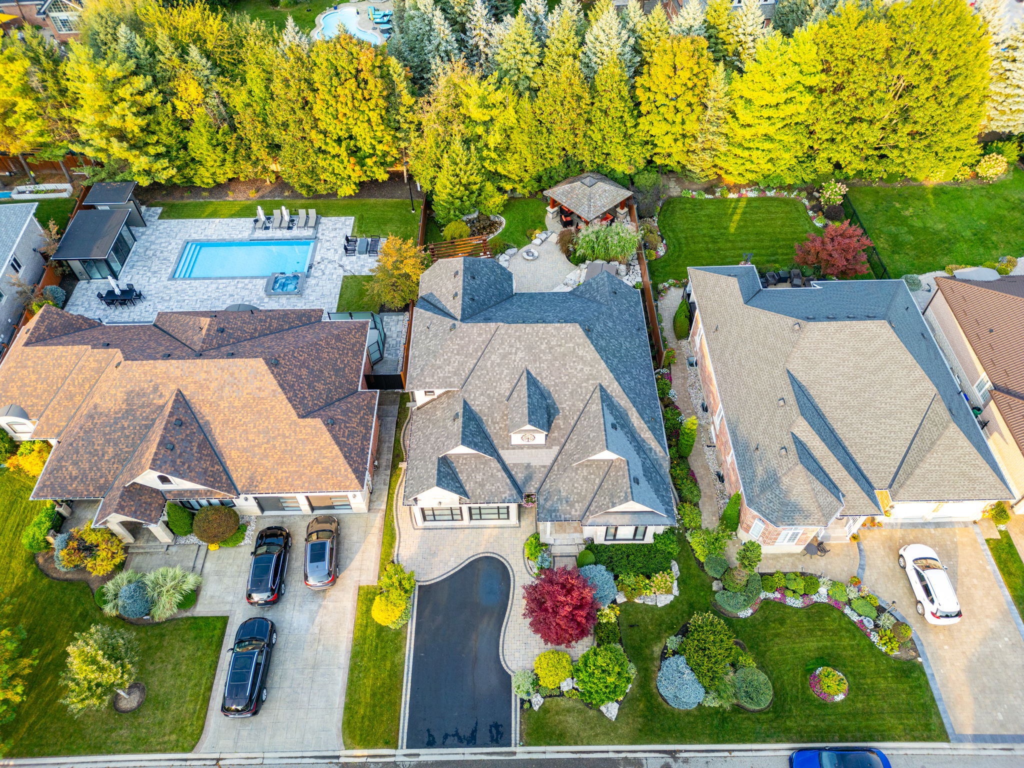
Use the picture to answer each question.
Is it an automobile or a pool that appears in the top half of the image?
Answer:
pool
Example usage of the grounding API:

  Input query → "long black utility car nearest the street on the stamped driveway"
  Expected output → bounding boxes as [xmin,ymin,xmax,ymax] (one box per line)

[217,623,275,727]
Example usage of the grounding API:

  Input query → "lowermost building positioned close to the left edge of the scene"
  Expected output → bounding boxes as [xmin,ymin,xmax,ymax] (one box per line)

[0,304,381,550]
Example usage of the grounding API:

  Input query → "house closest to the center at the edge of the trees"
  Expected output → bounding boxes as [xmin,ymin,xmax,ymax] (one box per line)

[401,256,679,543]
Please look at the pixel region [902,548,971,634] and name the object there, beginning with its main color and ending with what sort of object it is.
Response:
white car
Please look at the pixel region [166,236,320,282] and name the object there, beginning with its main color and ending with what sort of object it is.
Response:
blue swimming pool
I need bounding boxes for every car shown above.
[902,548,971,634]
[793,749,895,768]
[217,623,275,727]
[299,517,340,596]
[241,528,291,613]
